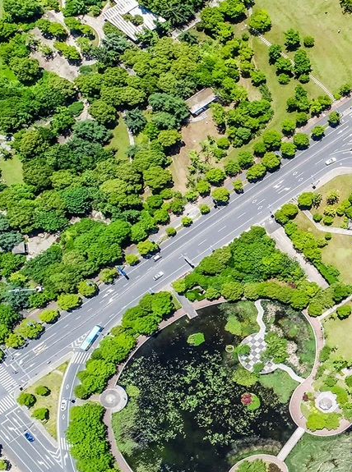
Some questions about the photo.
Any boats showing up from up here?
No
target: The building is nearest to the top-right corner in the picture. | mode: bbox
[183,86,218,123]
